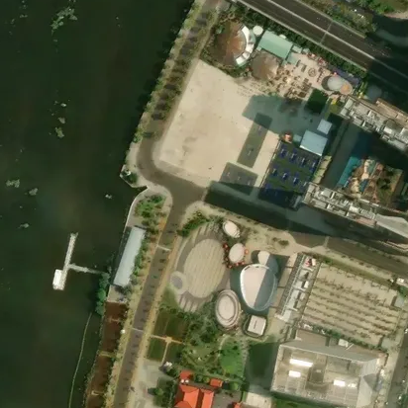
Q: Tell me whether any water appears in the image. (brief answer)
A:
Yes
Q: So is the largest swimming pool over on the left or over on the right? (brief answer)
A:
right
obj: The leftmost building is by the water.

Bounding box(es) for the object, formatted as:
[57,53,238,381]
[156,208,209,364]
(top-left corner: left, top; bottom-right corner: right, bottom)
[114,227,148,289]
